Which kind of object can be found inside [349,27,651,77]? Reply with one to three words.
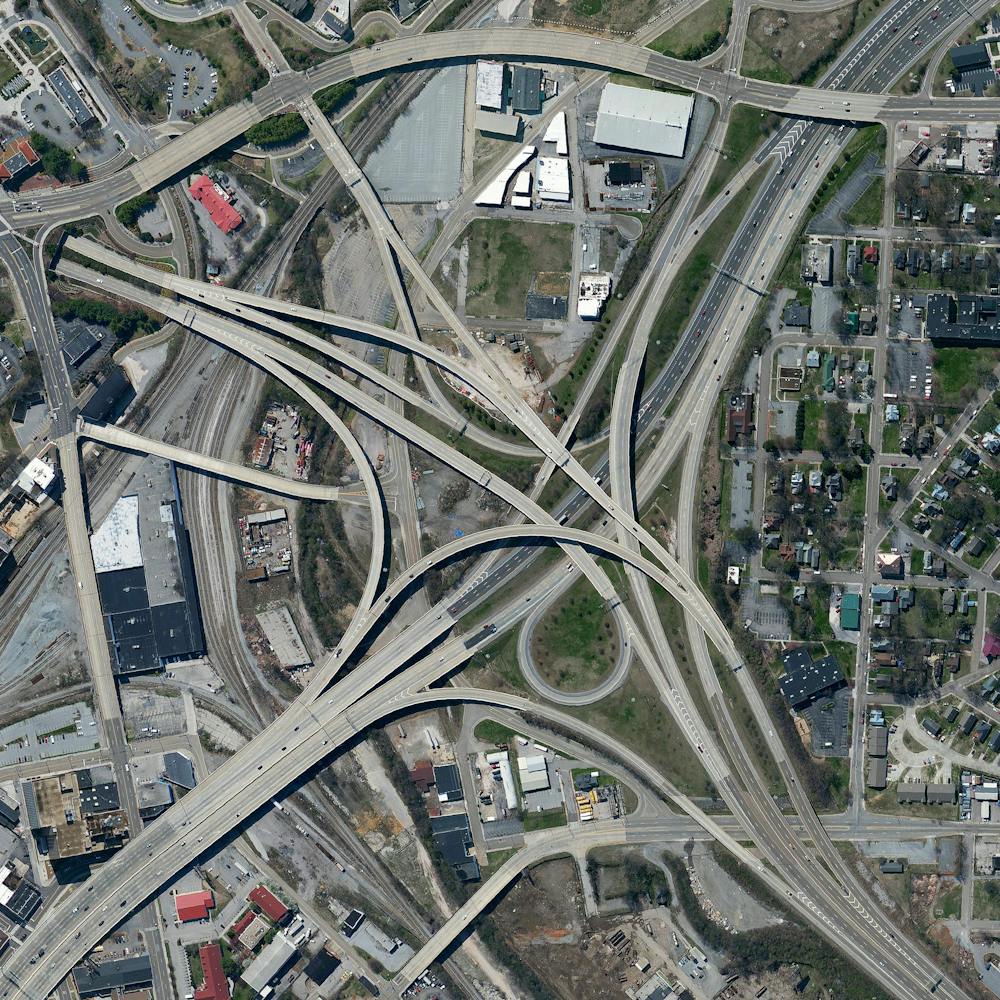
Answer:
overpass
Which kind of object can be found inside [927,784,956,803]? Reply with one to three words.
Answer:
building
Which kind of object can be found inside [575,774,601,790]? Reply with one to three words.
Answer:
house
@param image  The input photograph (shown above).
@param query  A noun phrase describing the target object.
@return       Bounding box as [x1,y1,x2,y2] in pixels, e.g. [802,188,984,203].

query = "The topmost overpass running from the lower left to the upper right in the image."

[133,96,270,189]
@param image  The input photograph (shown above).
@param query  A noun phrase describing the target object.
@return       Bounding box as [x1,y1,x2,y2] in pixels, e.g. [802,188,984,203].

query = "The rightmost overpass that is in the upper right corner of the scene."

[791,88,885,122]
